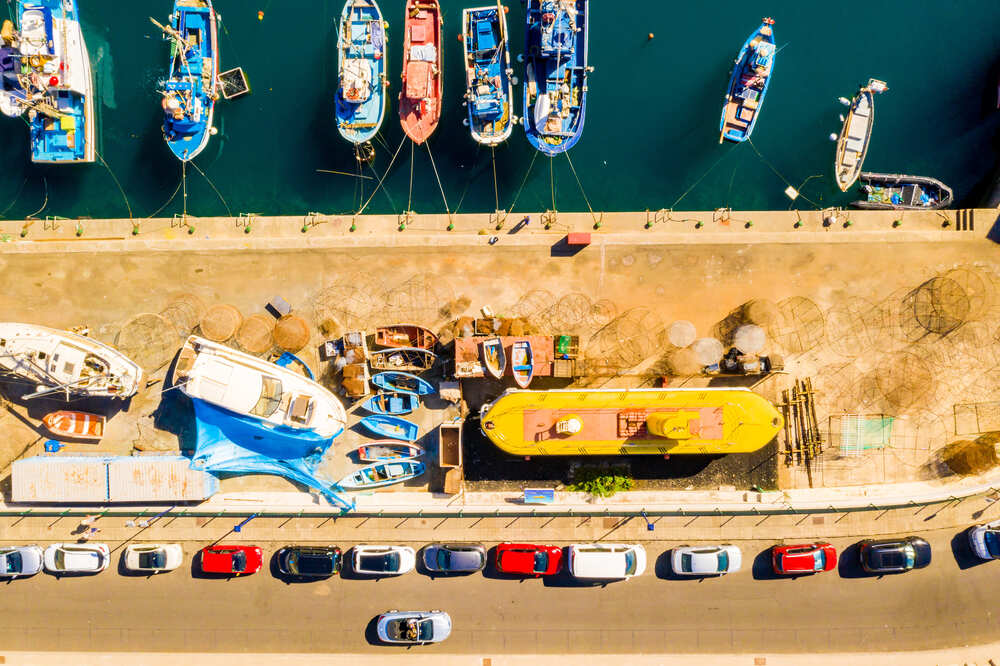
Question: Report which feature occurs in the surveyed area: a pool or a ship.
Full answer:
There is a ship in the scene.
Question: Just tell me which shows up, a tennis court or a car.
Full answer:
This aerial view contains a car.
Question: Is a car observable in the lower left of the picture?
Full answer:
Yes, there is a car in the lower left of the picture.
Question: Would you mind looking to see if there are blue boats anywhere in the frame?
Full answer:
Yes, the photo shows a blue boat.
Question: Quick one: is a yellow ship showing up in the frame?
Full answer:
Yes, a yellow ship can be made out from above.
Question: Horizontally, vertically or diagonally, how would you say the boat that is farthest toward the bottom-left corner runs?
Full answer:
The boat that is farthest toward the bottom-left corner runs horizontally in the image.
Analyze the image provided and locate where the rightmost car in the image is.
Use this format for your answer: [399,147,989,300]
[963,523,1000,561]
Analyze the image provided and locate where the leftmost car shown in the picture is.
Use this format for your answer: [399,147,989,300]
[0,545,45,579]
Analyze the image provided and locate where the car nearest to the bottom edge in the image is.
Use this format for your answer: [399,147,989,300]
[380,609,451,645]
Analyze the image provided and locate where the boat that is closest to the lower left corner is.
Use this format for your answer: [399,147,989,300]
[40,410,108,438]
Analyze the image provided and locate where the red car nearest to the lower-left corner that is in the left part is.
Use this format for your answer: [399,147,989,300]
[200,543,265,577]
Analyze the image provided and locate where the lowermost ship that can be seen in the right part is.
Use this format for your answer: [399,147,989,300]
[478,383,783,459]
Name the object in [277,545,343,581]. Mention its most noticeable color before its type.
black car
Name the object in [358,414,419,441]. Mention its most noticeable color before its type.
blue boat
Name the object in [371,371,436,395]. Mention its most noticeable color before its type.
blue boat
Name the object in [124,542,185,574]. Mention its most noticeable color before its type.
white car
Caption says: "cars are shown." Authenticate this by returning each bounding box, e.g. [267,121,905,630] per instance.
[770,540,836,575]
[671,544,740,578]
[200,543,265,577]
[124,542,185,574]
[424,542,486,575]
[569,543,647,581]
[963,523,1000,561]
[858,536,931,572]
[277,545,343,581]
[496,542,562,576]
[0,545,45,579]
[352,543,415,577]
[380,609,451,645]
[44,543,112,577]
